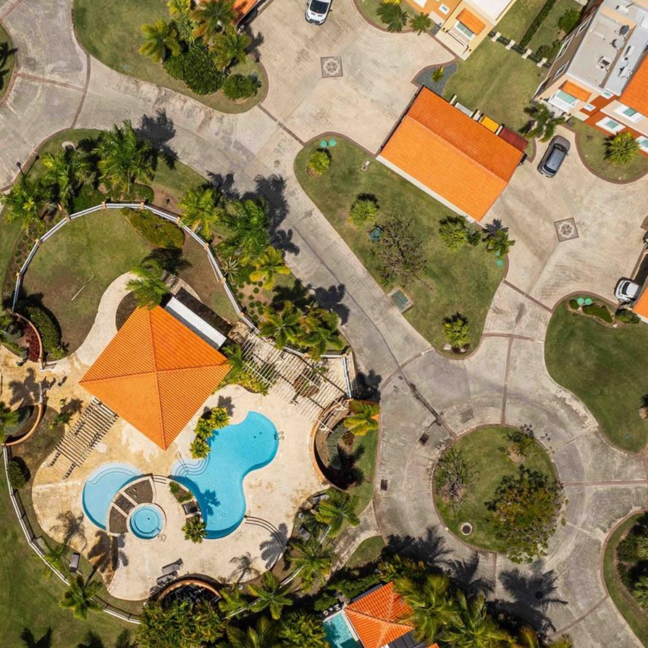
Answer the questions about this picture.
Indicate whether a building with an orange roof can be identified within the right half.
Yes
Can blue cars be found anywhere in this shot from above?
No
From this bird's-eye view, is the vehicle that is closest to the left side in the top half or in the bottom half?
top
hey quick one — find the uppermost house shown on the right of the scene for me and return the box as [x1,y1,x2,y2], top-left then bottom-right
[411,0,511,58]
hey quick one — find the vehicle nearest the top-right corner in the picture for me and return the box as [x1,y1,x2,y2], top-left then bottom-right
[535,132,569,182]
